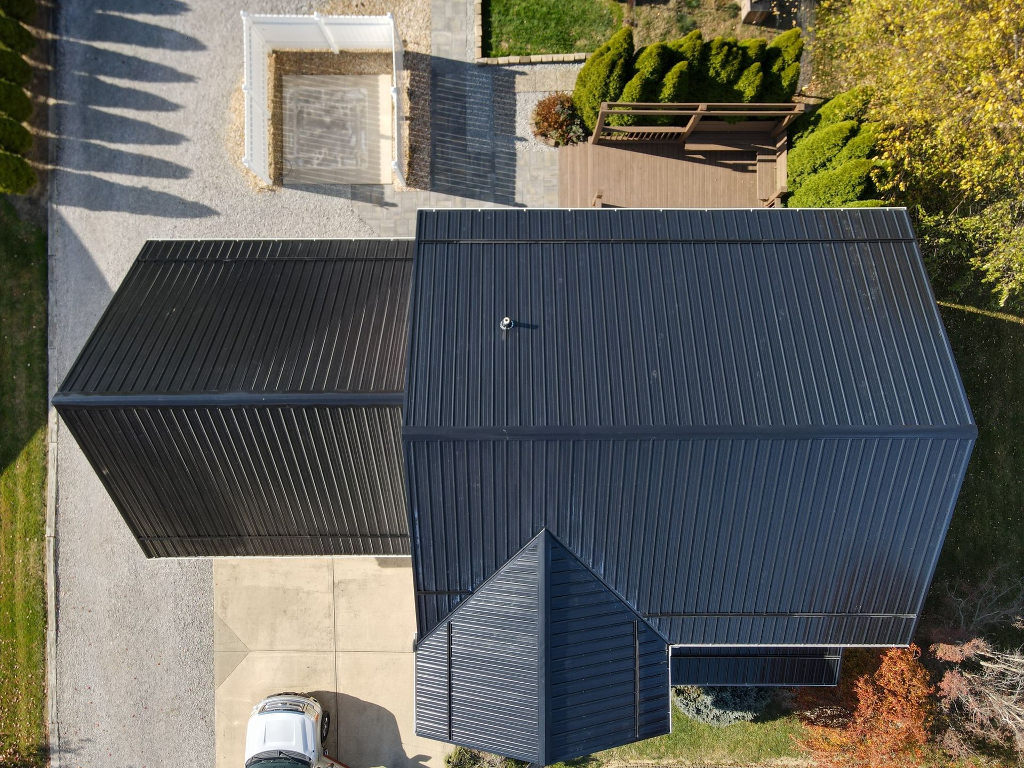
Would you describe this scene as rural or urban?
urban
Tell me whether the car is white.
Yes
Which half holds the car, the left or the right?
left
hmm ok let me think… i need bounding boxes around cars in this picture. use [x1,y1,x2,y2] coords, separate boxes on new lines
[245,691,361,768]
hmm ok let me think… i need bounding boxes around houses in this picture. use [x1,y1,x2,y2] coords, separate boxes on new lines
[54,206,978,768]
